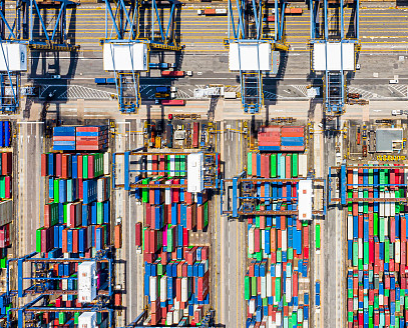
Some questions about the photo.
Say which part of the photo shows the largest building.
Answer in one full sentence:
The largest building is located in the right region of the scene.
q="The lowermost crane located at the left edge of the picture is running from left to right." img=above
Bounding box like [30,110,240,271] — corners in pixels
[7,289,116,328]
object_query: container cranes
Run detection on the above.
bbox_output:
[114,307,220,328]
[7,289,116,328]
[7,243,116,299]
[306,0,363,115]
[223,0,291,115]
[0,0,84,116]
[114,143,220,191]
[328,156,408,205]
[100,0,185,115]
[221,168,327,219]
